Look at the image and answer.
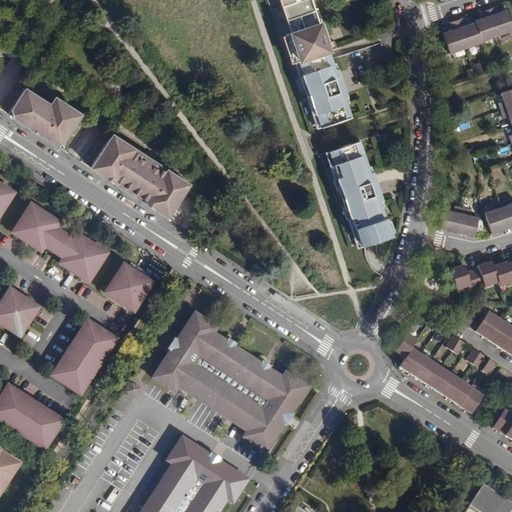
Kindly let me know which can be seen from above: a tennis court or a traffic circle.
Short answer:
traffic circle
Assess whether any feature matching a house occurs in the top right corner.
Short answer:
Yes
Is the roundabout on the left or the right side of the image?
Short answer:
right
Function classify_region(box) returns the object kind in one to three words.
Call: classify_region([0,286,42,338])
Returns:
building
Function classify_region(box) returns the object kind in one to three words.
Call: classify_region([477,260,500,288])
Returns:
house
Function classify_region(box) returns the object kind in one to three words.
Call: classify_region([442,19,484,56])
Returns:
house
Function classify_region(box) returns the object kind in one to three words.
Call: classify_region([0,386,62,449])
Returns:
building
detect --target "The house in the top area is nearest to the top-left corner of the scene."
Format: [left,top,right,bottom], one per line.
[12,90,84,150]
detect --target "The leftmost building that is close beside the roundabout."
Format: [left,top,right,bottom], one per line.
[152,310,311,450]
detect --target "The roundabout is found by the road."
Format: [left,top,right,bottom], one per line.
[331,337,386,392]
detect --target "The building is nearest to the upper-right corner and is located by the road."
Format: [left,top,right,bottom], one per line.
[475,6,512,44]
